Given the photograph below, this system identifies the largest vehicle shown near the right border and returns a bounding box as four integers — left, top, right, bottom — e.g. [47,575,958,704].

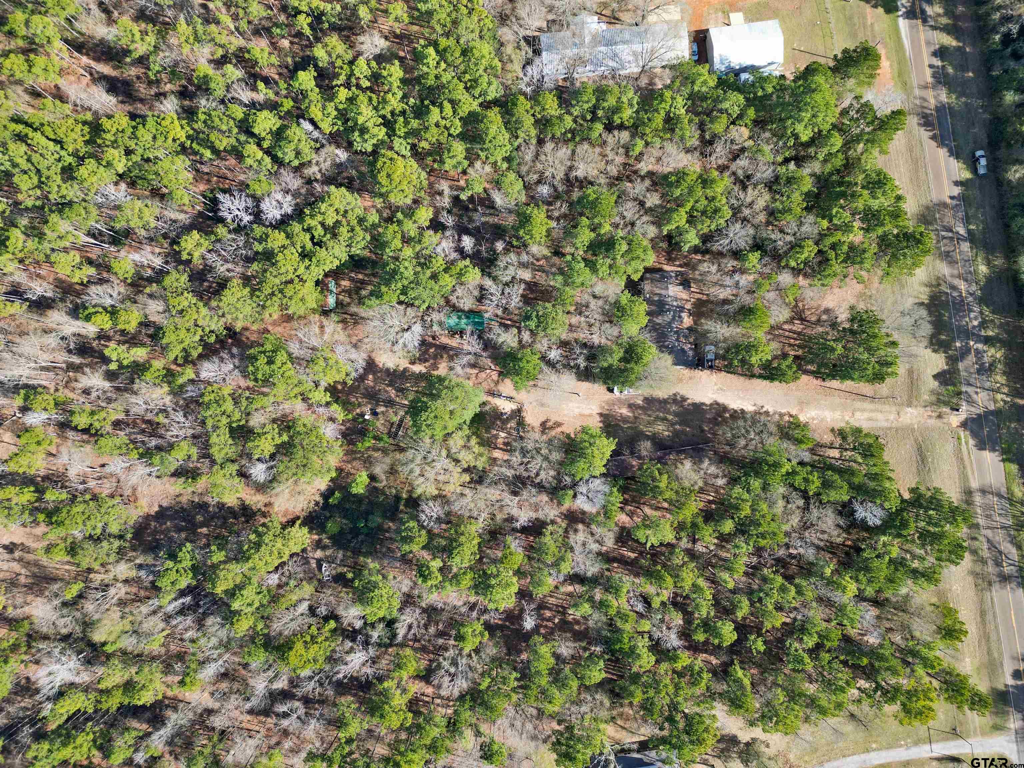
[974,146,990,173]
